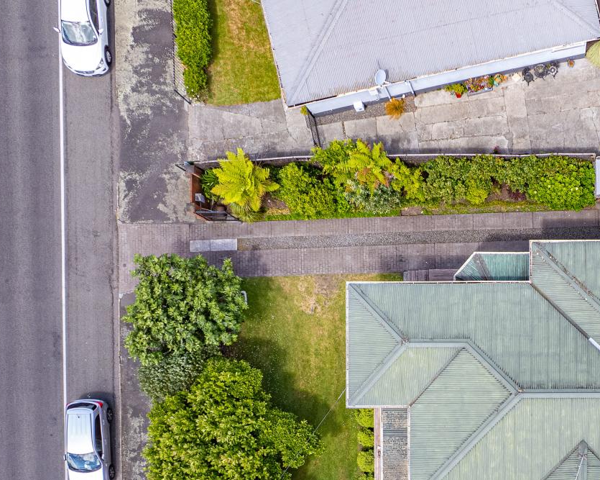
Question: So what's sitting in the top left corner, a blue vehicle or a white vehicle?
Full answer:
The one visible in the top left corner is a white vehicle.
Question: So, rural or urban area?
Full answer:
From above, the setting appears urban.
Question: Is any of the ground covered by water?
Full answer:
No, no water is visible.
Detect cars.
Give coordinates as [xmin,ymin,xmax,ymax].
[60,399,118,480]
[55,0,115,78]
